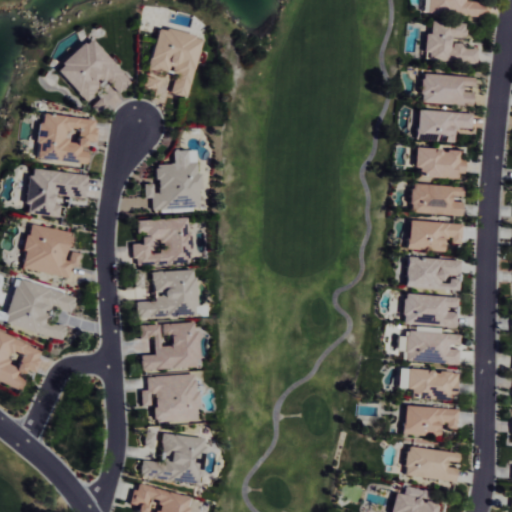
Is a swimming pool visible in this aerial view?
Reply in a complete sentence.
Yes, you can see a swimming pool in this photo.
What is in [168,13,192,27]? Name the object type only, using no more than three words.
swimming pool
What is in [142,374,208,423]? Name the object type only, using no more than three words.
house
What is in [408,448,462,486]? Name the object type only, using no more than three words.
house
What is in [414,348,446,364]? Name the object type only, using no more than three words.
solar array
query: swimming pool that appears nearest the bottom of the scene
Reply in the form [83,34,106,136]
[366,493,388,506]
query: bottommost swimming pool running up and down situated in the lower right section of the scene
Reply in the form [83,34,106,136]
[384,445,396,473]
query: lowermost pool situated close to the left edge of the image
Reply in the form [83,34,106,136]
[0,226,18,251]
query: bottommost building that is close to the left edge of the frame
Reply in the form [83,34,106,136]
[0,330,40,392]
